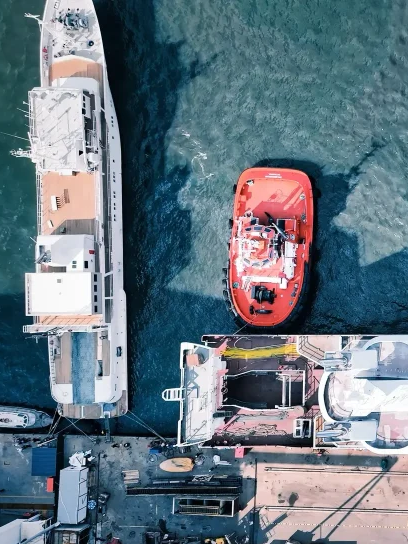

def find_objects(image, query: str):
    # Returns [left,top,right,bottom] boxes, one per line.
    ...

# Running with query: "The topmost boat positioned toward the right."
[224,166,318,332]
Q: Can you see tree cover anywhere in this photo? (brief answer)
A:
No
